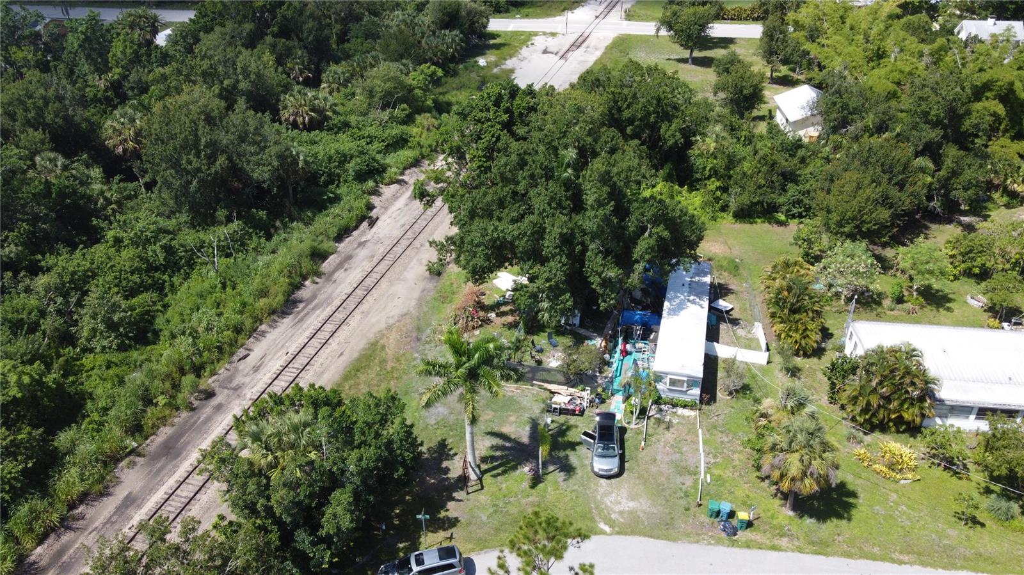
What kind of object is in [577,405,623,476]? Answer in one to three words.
car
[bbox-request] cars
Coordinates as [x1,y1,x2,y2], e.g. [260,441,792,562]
[577,405,623,476]
[371,543,462,575]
